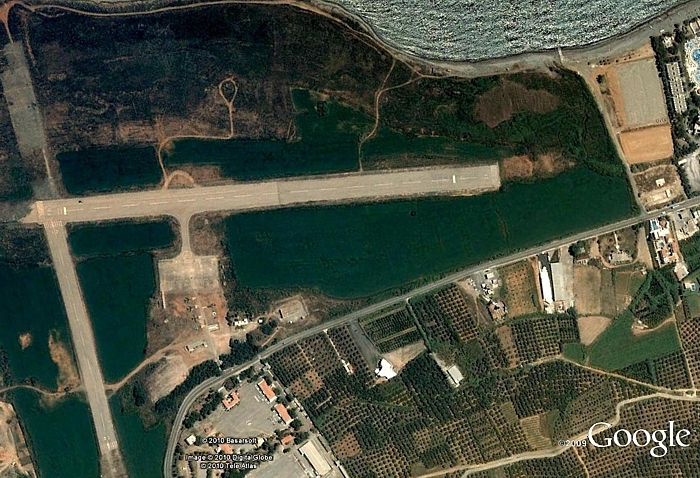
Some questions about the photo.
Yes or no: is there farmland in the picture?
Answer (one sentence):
Yes, the picture does contain farmland.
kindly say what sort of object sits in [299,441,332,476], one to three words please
building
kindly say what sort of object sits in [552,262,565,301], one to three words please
shed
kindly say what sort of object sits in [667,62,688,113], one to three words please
building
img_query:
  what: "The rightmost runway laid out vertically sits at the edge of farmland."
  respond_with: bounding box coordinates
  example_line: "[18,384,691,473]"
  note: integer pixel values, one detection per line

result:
[44,220,126,478]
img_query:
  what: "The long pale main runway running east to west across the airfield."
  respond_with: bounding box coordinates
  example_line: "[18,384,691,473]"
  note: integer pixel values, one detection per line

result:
[21,161,500,224]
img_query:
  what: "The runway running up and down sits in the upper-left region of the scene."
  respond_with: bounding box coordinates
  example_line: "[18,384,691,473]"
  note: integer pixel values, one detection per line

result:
[2,41,44,152]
